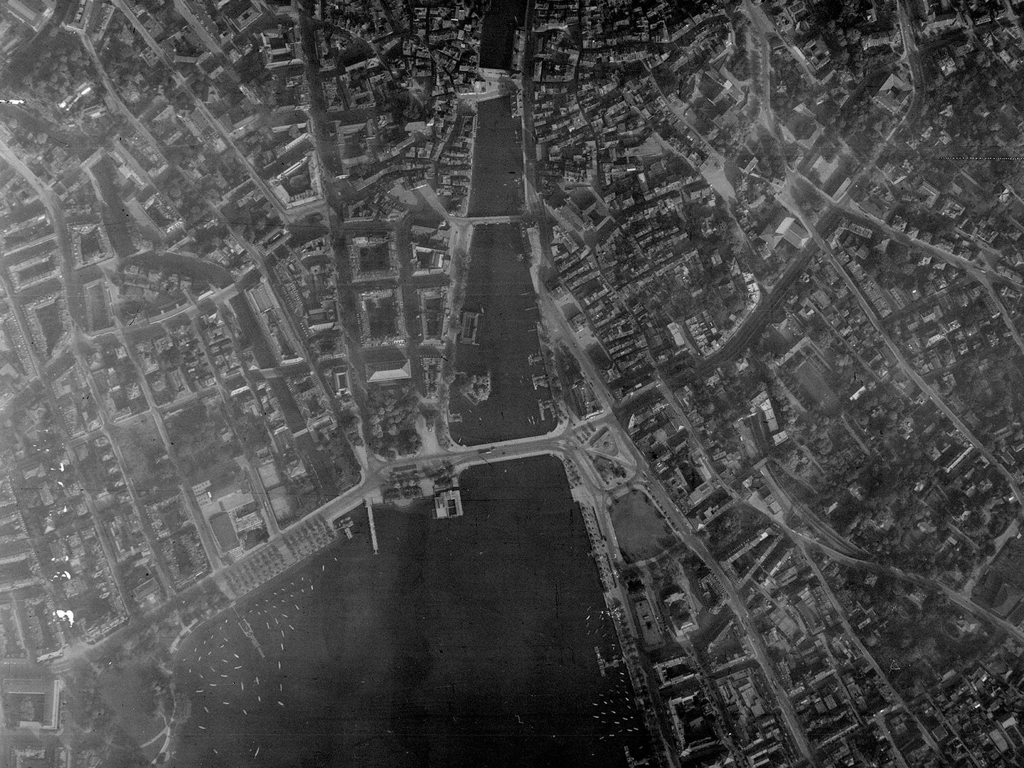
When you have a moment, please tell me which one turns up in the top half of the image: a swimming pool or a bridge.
bridge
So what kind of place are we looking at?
residential area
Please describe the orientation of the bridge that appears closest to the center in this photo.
horizontally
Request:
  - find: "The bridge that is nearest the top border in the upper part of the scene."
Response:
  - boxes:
[476,68,525,102]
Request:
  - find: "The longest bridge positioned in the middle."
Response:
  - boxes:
[460,434,555,466]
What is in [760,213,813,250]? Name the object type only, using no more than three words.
building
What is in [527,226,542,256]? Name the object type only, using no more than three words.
house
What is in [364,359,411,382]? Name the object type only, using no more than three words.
house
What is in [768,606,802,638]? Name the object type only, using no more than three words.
building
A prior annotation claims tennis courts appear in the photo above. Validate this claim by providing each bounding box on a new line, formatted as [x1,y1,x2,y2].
[259,464,279,487]
[268,487,290,513]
